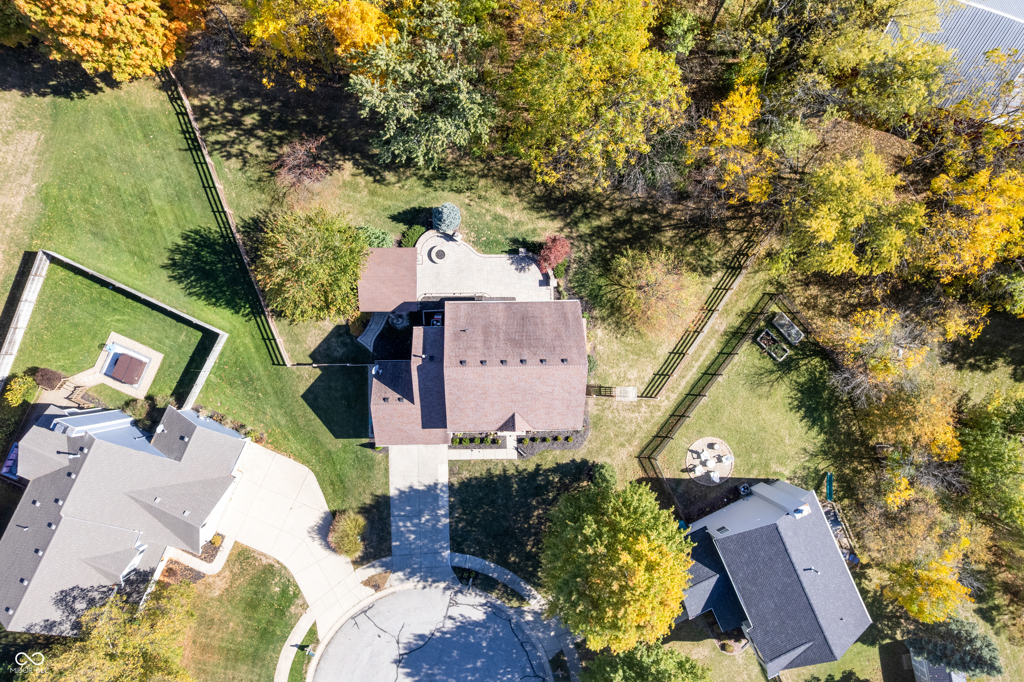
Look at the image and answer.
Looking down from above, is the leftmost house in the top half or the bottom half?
bottom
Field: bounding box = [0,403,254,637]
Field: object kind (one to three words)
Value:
house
